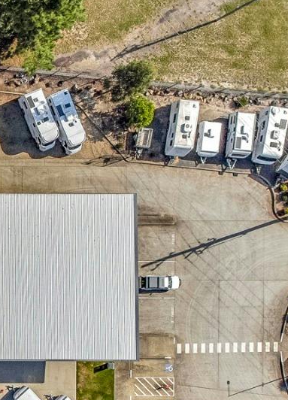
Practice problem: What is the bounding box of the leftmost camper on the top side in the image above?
[13,89,59,155]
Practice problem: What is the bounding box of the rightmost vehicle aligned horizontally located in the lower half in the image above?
[138,273,179,292]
